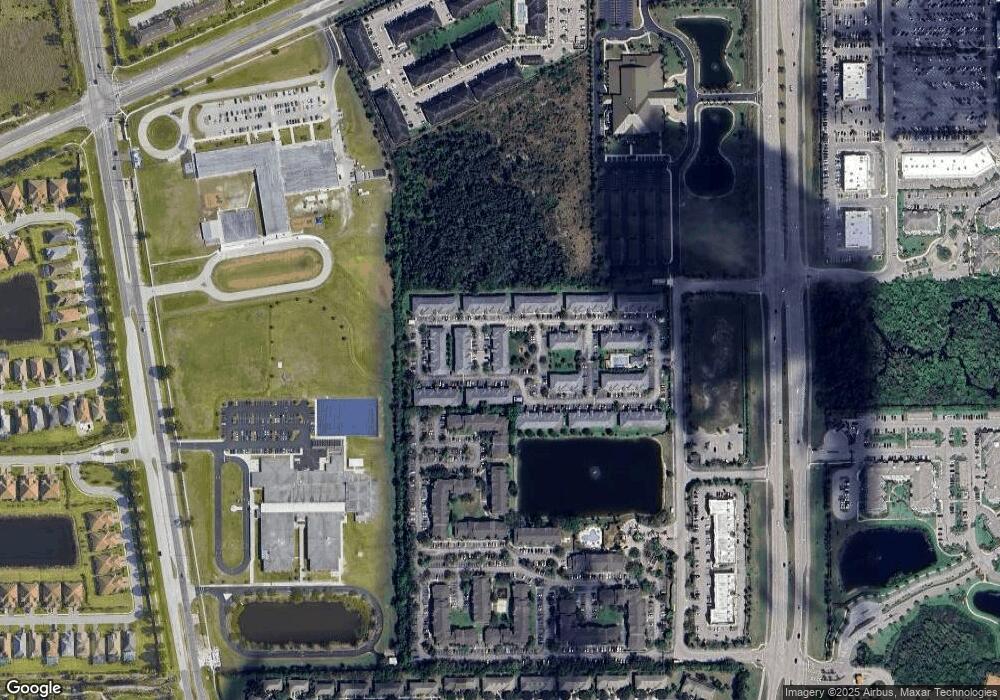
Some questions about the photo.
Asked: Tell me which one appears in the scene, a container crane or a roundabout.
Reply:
roundabout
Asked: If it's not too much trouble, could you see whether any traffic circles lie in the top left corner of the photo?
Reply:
Yes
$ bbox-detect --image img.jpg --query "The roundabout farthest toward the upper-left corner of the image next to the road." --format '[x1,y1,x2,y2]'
[138,105,187,154]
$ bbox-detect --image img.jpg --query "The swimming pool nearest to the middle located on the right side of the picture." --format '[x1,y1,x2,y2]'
[611,354,629,367]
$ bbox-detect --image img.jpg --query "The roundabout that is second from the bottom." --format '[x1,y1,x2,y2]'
[925,235,961,271]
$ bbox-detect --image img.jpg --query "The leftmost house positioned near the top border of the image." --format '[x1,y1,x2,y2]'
[137,12,190,47]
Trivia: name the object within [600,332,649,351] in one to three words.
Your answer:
building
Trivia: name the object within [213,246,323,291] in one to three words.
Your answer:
sports field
